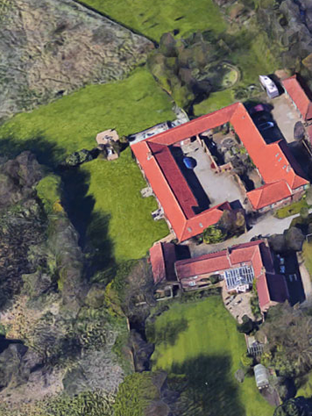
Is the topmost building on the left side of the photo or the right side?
right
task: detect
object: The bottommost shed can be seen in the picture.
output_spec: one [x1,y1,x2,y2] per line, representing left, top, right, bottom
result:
[253,366,267,395]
